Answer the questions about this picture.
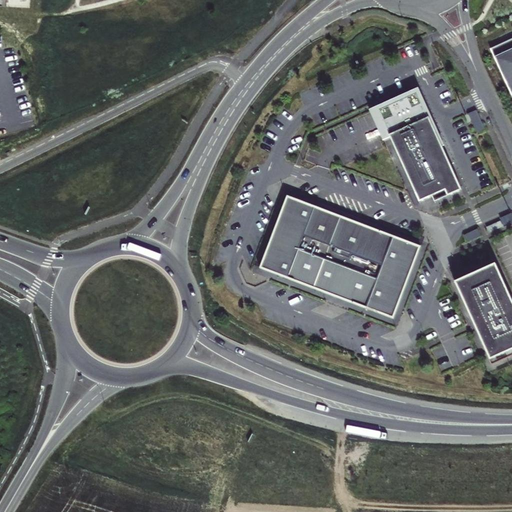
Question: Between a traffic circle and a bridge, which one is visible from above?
traffic circle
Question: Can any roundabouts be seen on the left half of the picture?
Yes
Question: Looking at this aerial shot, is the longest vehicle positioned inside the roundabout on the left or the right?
left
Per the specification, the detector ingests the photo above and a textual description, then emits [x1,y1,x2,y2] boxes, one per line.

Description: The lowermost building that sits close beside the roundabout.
[260,195,423,326]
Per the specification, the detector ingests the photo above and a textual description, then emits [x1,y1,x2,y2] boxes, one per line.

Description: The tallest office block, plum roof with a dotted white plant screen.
[455,262,512,373]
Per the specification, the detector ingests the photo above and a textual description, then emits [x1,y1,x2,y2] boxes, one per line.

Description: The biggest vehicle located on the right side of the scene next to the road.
[346,426,388,440]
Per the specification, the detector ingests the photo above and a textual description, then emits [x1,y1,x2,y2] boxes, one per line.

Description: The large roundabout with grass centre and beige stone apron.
[50,236,202,388]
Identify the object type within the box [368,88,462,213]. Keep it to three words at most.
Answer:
building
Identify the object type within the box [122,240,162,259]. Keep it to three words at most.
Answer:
vehicle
